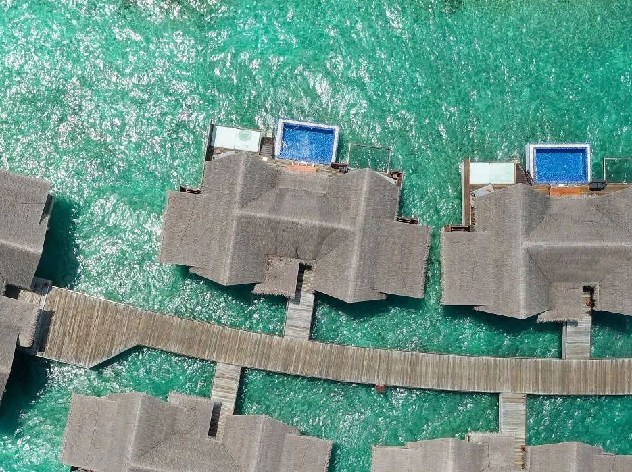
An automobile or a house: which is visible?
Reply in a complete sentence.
The image shows a house.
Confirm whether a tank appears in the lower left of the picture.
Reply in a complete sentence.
No, looking in the lower left of the picture, there is no tank.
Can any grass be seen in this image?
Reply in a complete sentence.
No, the scene doesn't show any grass.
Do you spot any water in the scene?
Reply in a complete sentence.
Yes, there's water in this view.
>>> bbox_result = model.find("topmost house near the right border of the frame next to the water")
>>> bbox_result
[436,155,632,324]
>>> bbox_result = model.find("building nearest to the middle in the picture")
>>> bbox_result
[154,120,430,302]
